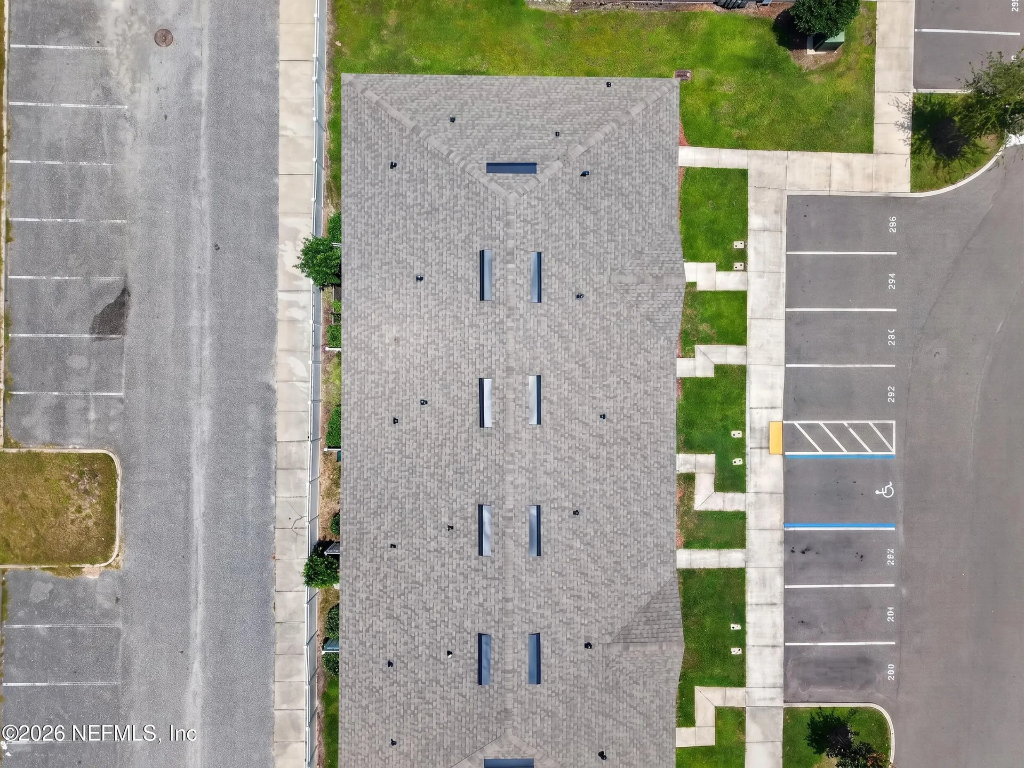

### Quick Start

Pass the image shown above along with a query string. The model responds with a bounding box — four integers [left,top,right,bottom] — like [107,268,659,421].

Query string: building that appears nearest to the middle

[338,73,685,768]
